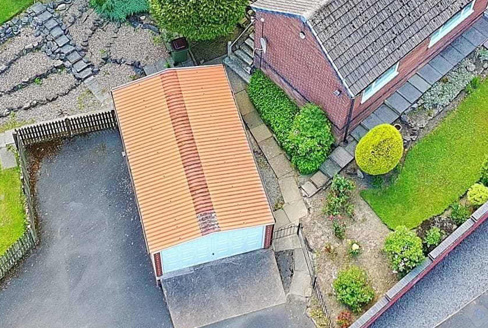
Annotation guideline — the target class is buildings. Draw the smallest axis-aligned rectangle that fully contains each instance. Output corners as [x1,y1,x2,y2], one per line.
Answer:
[248,0,488,144]
[112,64,274,278]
